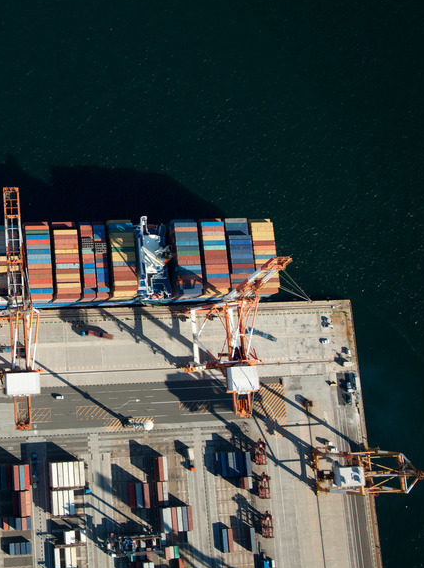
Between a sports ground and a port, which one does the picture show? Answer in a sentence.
It's a port.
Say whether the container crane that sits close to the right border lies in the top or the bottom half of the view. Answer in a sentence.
The container crane that sits close to the right border is in the bottom half of the image.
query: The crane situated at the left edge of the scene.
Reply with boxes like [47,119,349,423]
[0,185,48,430]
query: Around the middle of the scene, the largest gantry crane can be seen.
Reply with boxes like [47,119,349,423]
[173,254,285,418]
